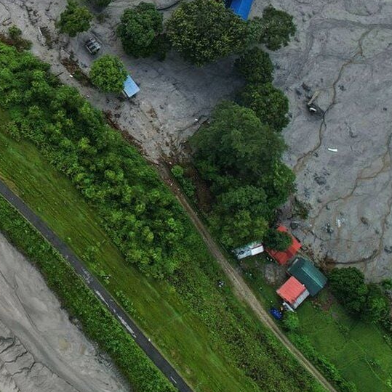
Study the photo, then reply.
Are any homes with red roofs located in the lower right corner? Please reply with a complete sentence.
Yes, a home with a red roof shows up in the lower right corner.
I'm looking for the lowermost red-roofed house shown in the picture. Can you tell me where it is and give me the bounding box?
[272,277,309,309]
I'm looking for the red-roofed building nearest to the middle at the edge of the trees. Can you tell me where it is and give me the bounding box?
[263,224,302,266]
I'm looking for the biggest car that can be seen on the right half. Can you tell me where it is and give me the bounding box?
[307,103,323,117]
